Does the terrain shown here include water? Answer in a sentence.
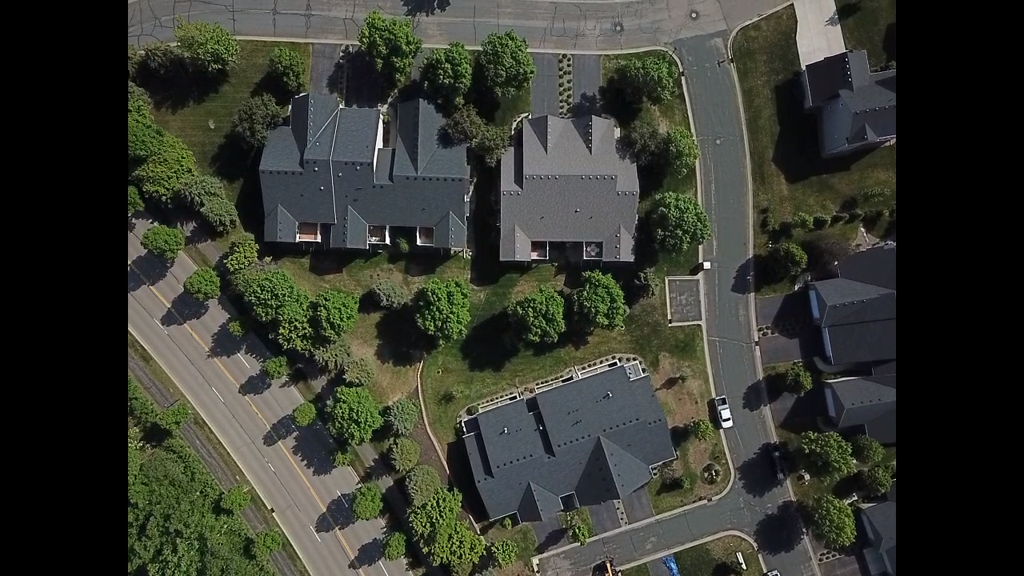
No, there is no water in the image.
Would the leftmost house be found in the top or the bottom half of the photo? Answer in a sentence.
The top half of the photo is where the leftmost house is.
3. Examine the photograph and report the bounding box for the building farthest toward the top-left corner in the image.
[260,94,469,249]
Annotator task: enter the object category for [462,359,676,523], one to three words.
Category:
house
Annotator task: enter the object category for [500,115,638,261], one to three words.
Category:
house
